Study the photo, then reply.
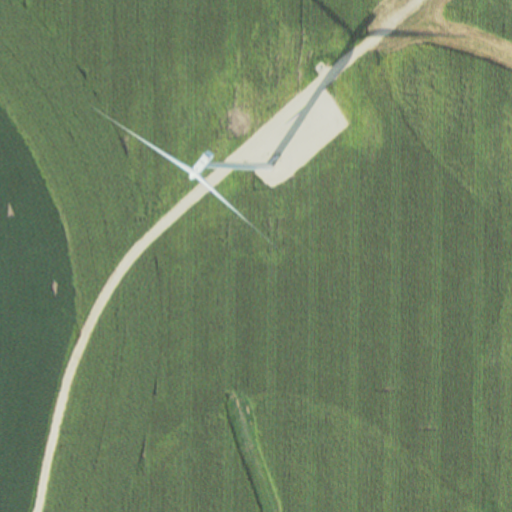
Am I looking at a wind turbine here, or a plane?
wind turbine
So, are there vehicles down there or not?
No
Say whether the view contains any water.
No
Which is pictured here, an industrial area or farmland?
farmland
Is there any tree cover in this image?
No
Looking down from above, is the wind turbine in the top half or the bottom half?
top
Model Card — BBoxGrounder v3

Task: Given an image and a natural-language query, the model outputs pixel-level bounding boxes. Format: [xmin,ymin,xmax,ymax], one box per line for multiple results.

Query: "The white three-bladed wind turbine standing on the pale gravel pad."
[88,105,281,244]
